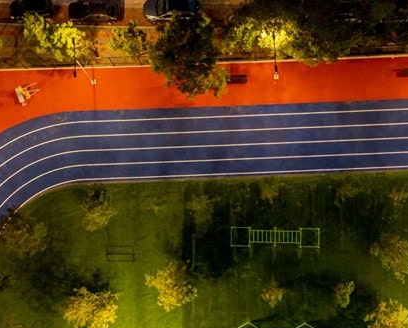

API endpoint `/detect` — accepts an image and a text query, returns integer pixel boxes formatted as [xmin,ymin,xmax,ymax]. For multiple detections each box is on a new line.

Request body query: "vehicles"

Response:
[144,0,199,22]
[6,0,56,21]
[67,0,123,22]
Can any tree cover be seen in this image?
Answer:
Yes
